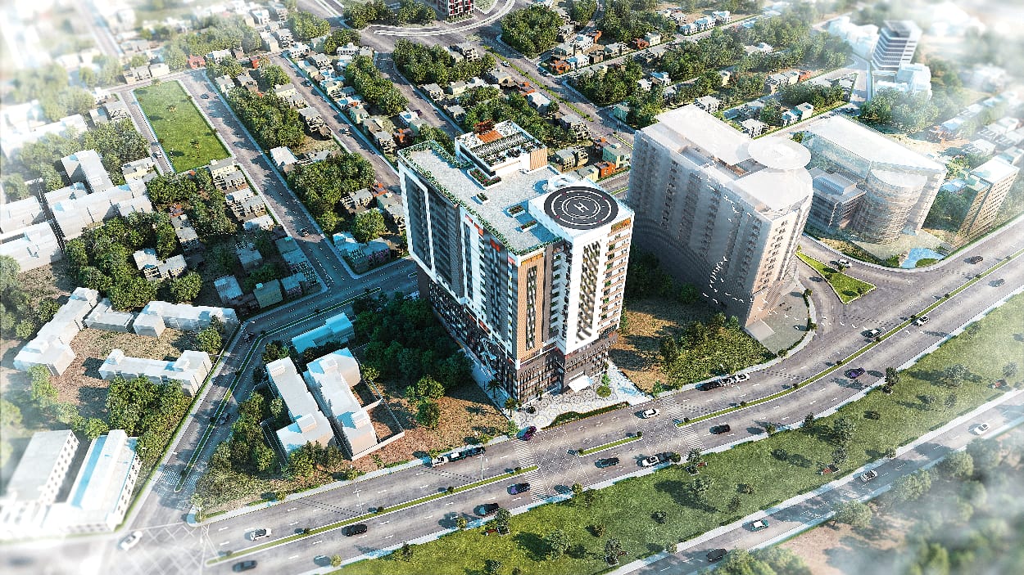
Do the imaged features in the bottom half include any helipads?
No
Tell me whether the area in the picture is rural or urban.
urban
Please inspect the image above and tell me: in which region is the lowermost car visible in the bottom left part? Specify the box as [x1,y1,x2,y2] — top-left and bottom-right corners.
[234,559,255,572]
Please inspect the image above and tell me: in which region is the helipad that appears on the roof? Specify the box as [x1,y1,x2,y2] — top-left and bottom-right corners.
[545,183,616,223]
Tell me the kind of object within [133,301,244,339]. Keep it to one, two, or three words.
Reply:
building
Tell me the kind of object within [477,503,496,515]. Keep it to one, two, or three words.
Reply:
vehicle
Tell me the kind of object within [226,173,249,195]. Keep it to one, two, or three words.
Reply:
house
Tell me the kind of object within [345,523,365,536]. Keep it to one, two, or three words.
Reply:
vehicle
